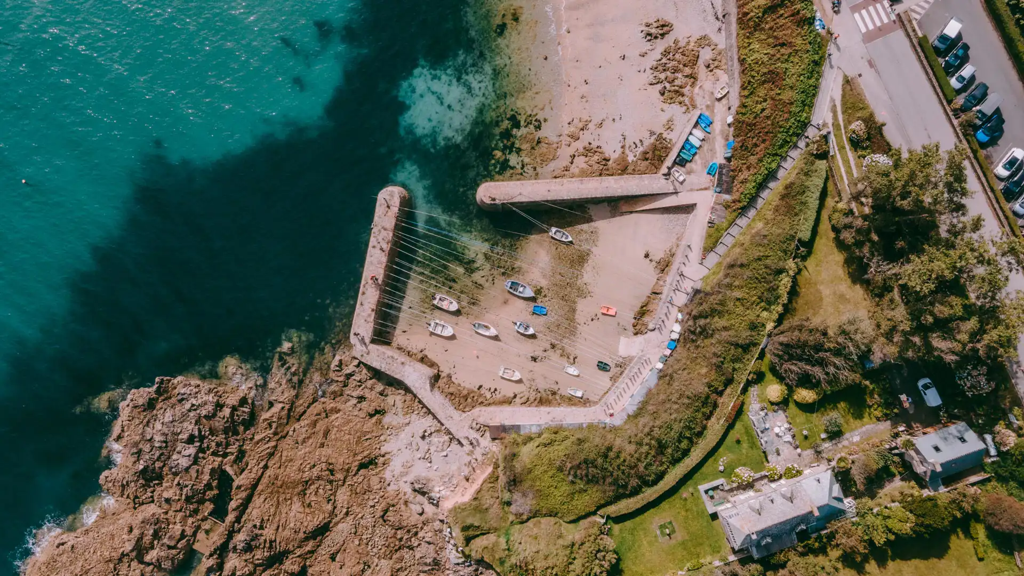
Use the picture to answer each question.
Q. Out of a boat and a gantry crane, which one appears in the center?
boat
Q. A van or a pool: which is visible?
van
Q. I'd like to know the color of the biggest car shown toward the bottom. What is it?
blue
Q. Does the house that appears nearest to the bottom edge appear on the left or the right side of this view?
right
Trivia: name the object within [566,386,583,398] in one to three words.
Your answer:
boat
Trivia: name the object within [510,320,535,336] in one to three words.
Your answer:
boat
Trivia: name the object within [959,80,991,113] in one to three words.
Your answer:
car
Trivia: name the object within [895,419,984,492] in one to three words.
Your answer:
shed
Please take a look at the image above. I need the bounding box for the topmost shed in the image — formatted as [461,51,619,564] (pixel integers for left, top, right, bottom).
[714,163,732,195]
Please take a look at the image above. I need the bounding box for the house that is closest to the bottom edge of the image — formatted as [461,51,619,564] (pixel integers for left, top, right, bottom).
[708,462,851,571]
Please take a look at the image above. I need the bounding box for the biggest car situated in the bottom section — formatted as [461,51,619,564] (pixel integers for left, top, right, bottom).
[917,377,942,408]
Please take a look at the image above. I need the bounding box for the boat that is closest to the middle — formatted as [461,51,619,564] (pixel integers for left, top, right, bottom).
[503,278,535,298]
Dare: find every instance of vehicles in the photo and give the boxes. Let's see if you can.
[973,113,1007,142]
[1000,168,1024,199]
[951,63,978,93]
[941,42,972,74]
[1011,193,1024,217]
[959,80,991,113]
[933,15,971,57]
[994,147,1024,180]
[973,91,1011,124]
[917,377,942,408]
